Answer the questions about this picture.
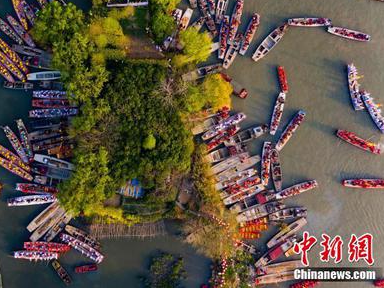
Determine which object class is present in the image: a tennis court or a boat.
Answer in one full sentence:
The image shows a boat.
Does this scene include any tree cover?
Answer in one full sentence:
Yes, tree cover can be seen from above here.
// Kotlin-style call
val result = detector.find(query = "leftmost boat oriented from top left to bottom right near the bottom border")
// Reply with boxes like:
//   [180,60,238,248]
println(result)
[51,260,72,286]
